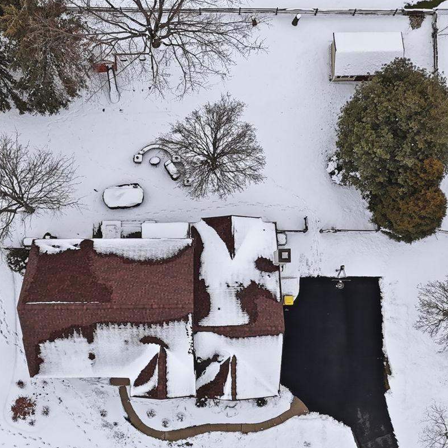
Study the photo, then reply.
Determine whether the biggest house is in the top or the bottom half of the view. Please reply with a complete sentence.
It is in the bottom half that the biggest house appears.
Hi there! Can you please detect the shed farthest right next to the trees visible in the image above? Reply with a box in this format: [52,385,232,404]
[327,33,405,81]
